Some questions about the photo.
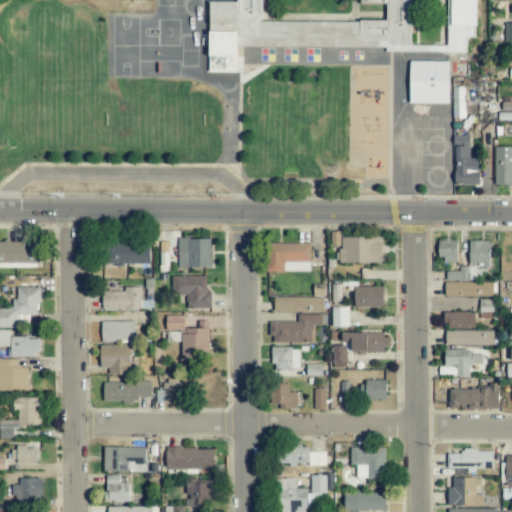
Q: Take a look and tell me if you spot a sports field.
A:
Yes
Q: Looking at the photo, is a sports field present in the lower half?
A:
No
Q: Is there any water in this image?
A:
No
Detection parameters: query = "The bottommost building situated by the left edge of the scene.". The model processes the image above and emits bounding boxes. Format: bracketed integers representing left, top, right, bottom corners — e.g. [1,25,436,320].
[12,478,44,500]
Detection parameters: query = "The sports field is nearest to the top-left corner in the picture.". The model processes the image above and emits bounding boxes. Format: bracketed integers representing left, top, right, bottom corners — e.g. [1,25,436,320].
[0,0,223,184]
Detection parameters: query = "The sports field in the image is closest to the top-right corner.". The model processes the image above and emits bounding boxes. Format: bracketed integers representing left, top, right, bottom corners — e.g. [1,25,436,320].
[244,66,350,178]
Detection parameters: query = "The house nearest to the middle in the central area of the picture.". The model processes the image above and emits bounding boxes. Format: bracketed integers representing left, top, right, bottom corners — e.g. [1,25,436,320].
[268,243,312,273]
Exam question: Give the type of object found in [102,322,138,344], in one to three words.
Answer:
house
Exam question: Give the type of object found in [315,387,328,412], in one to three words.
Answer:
building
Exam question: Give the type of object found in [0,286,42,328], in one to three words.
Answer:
house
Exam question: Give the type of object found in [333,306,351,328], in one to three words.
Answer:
building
